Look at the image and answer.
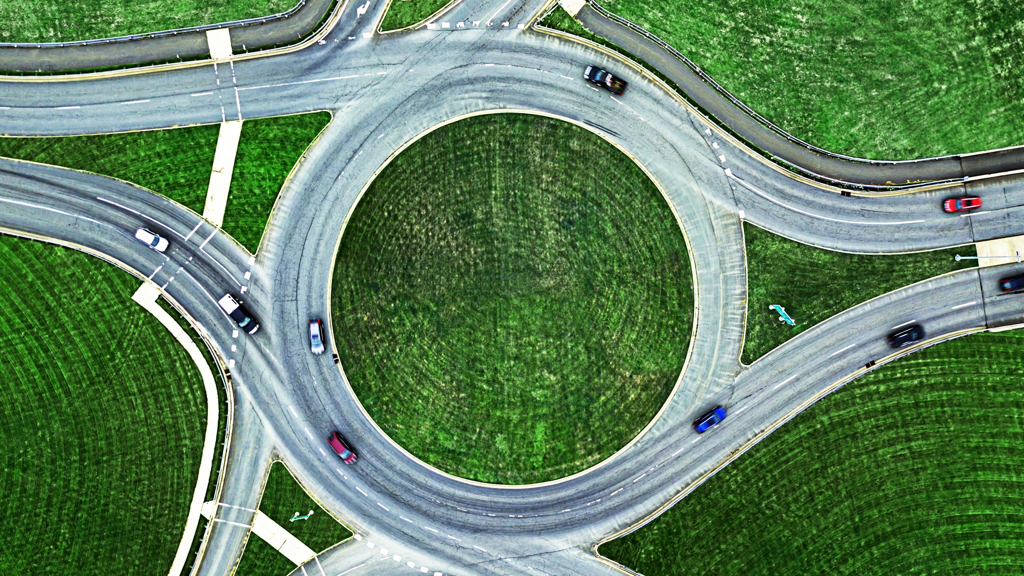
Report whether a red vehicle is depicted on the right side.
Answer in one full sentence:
Yes, the scene does show a red vehicle on the right side.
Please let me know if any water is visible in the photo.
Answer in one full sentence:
No, there is no water in the image.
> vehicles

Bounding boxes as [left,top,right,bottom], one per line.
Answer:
[885,323,925,350]
[307,318,326,354]
[944,195,982,213]
[217,292,260,334]
[132,225,171,254]
[584,65,629,96]
[325,432,357,464]
[999,272,1024,292]
[691,404,728,435]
